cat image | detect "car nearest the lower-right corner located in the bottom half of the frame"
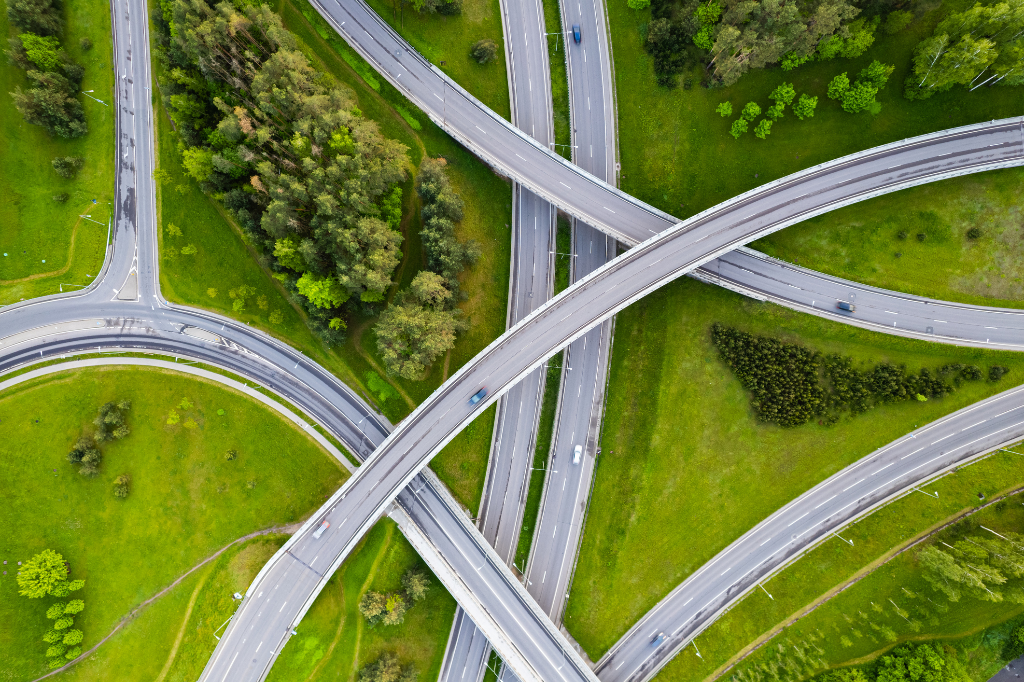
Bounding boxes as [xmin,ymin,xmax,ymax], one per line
[650,631,667,648]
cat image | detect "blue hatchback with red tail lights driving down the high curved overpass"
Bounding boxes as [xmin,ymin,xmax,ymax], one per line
[468,387,487,404]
